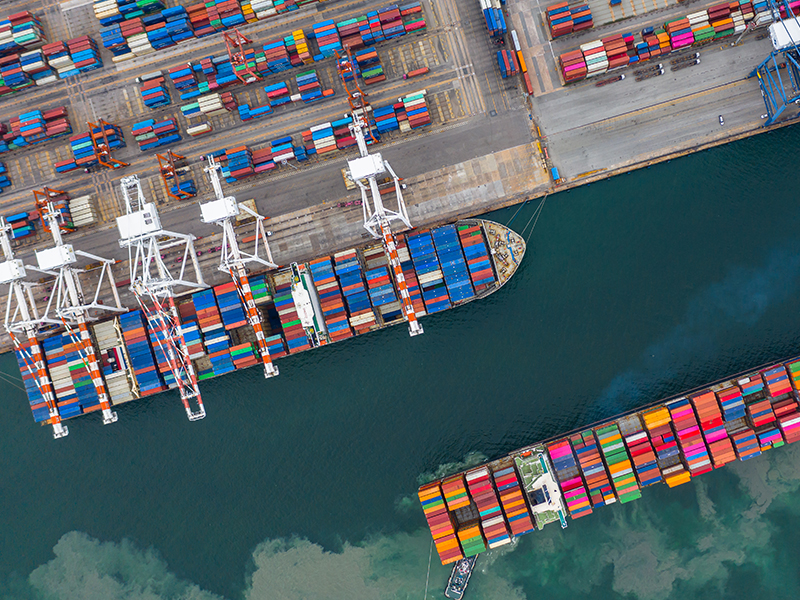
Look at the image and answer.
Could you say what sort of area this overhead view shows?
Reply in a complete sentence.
This image shows a port.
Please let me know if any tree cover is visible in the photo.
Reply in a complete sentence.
No, no tree cover is visible.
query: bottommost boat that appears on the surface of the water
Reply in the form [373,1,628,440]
[447,552,481,600]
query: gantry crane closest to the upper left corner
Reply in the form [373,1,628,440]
[86,115,132,170]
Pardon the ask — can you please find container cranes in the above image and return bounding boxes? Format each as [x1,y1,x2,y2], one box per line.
[155,147,199,201]
[0,212,91,439]
[86,115,132,170]
[223,25,264,86]
[345,105,421,338]
[199,148,288,379]
[332,40,369,99]
[35,198,138,425]
[345,89,381,145]
[737,0,800,131]
[31,184,80,236]
[114,171,219,421]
